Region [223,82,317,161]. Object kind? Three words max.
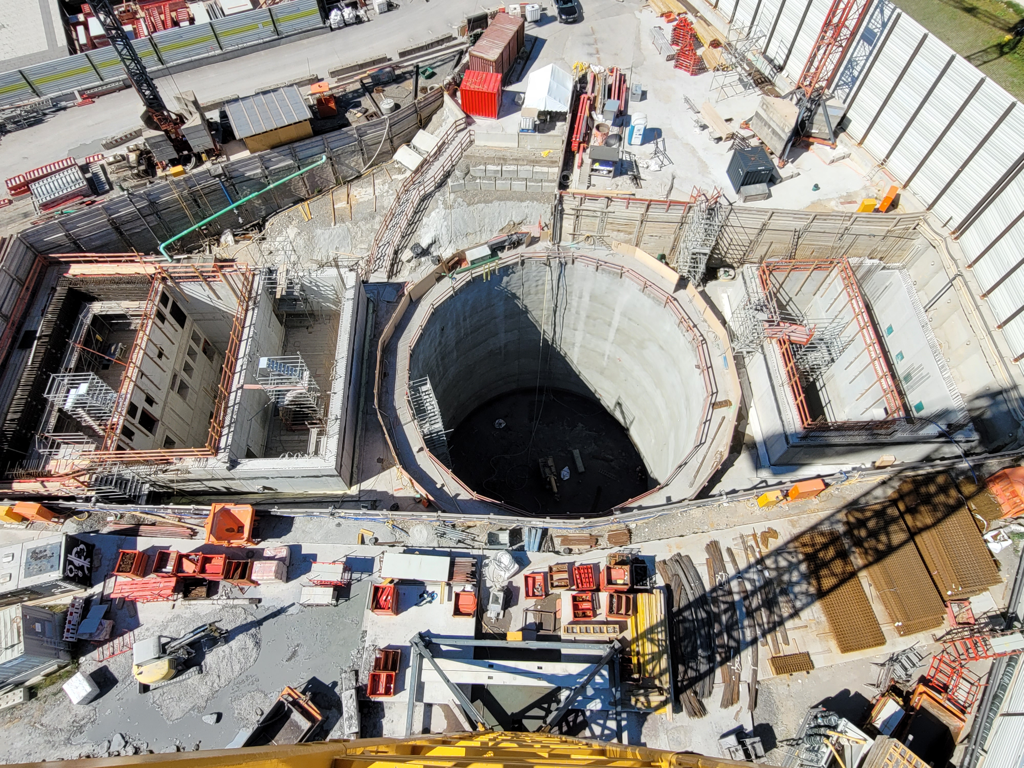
shed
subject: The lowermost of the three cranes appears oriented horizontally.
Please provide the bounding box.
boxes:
[0,609,827,768]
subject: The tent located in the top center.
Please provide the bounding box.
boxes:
[522,64,573,130]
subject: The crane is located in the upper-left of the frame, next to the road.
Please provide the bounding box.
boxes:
[78,0,215,166]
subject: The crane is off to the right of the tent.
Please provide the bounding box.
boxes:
[738,0,875,169]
